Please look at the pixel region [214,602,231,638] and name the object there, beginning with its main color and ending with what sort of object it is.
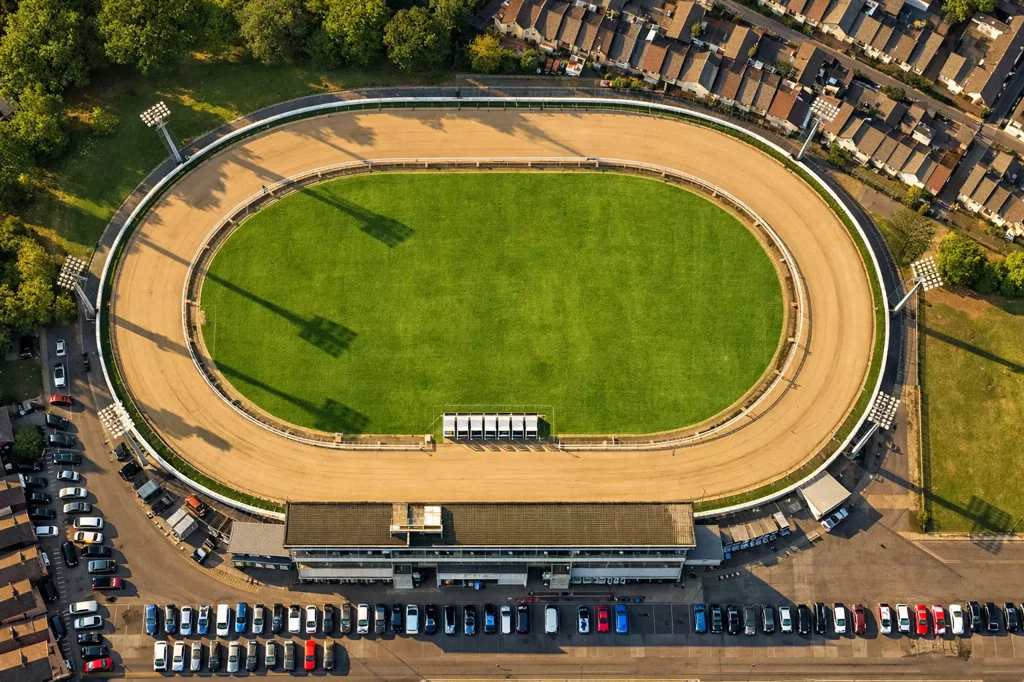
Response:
white car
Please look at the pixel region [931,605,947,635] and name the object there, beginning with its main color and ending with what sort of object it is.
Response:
red car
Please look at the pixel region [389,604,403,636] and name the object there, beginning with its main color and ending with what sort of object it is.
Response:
black car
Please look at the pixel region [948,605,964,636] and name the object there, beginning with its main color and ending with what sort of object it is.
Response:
white car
